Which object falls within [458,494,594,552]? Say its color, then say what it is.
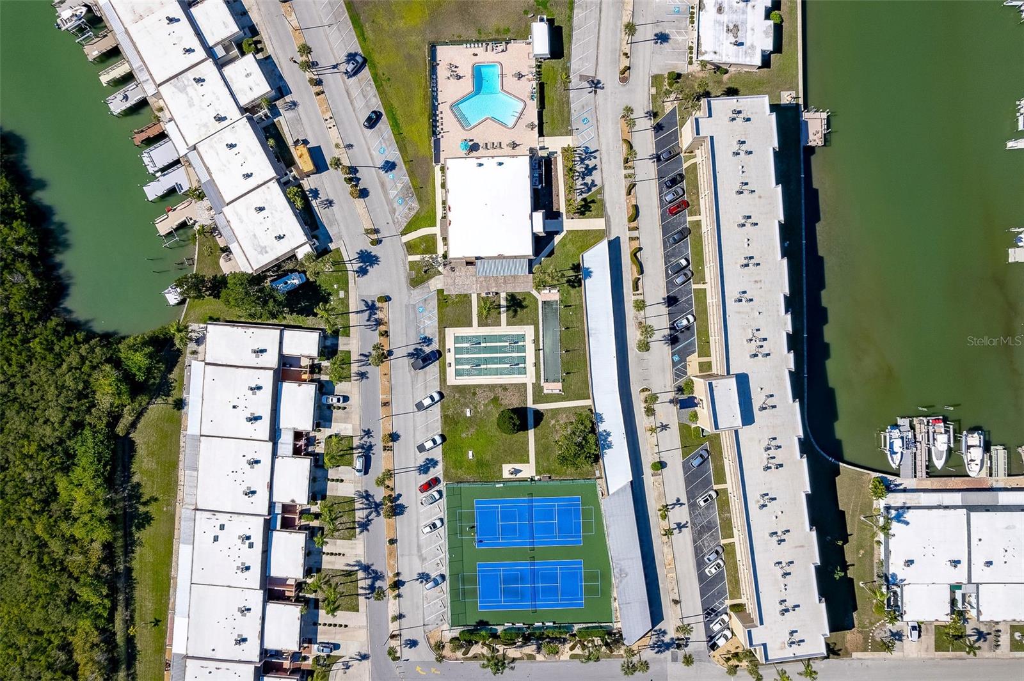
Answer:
blue tennis court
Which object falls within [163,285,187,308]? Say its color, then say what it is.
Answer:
white boat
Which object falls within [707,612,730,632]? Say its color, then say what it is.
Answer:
white car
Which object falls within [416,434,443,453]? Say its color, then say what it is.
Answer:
white vehicle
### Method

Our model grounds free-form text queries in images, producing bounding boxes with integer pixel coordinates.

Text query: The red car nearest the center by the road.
[417,475,440,493]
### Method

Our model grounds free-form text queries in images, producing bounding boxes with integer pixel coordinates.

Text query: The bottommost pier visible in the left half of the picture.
[152,197,197,237]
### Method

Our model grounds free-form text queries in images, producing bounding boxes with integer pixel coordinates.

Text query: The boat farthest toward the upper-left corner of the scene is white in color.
[51,8,88,29]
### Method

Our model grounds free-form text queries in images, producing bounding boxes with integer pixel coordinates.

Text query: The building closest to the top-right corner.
[694,0,773,73]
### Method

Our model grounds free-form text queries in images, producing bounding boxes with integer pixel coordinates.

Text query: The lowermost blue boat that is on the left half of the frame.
[271,275,307,292]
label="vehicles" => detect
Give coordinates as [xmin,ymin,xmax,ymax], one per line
[351,454,365,477]
[360,110,382,130]
[415,391,442,411]
[666,199,689,217]
[703,557,725,577]
[662,172,685,189]
[420,489,443,507]
[322,395,345,405]
[416,434,443,453]
[667,257,690,276]
[694,488,716,508]
[420,517,444,535]
[673,269,693,286]
[658,146,681,163]
[423,573,446,591]
[668,226,690,245]
[707,612,730,632]
[412,350,440,369]
[662,186,685,205]
[673,313,696,331]
[417,475,440,493]
[688,449,710,469]
[906,621,919,643]
[292,138,314,172]
[707,627,733,650]
[313,642,336,652]
[703,544,724,564]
